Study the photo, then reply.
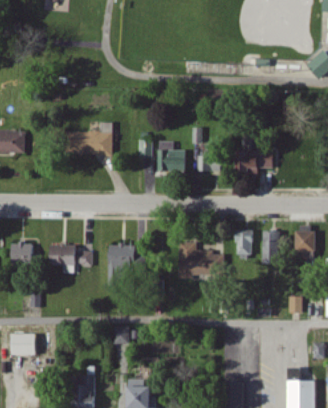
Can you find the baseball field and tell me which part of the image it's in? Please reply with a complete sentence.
The baseball field is located in the top right region of the scene.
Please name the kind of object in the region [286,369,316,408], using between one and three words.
building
